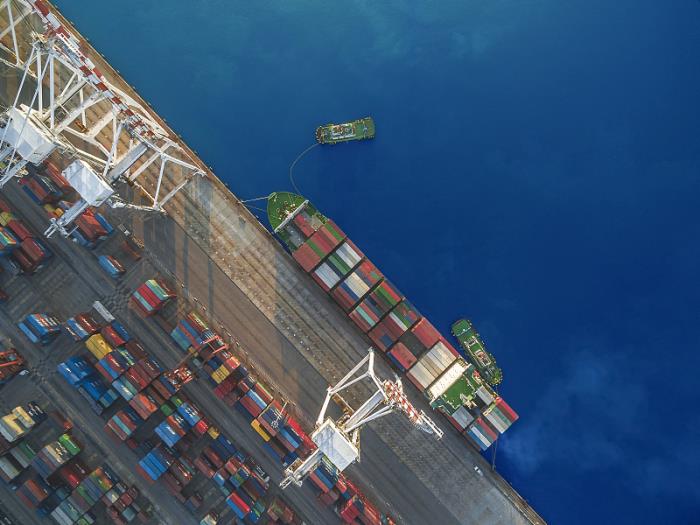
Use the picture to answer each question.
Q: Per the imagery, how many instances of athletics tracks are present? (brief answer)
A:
0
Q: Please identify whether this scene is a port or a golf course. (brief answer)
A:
port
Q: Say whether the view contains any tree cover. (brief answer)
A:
No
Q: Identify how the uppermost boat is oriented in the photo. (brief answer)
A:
from side to side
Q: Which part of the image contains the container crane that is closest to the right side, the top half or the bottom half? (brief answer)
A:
bottom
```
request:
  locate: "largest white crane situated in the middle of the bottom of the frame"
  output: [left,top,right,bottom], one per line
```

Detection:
[277,344,440,494]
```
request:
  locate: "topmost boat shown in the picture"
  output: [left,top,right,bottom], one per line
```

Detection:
[318,118,376,141]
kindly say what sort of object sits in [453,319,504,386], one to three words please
boat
